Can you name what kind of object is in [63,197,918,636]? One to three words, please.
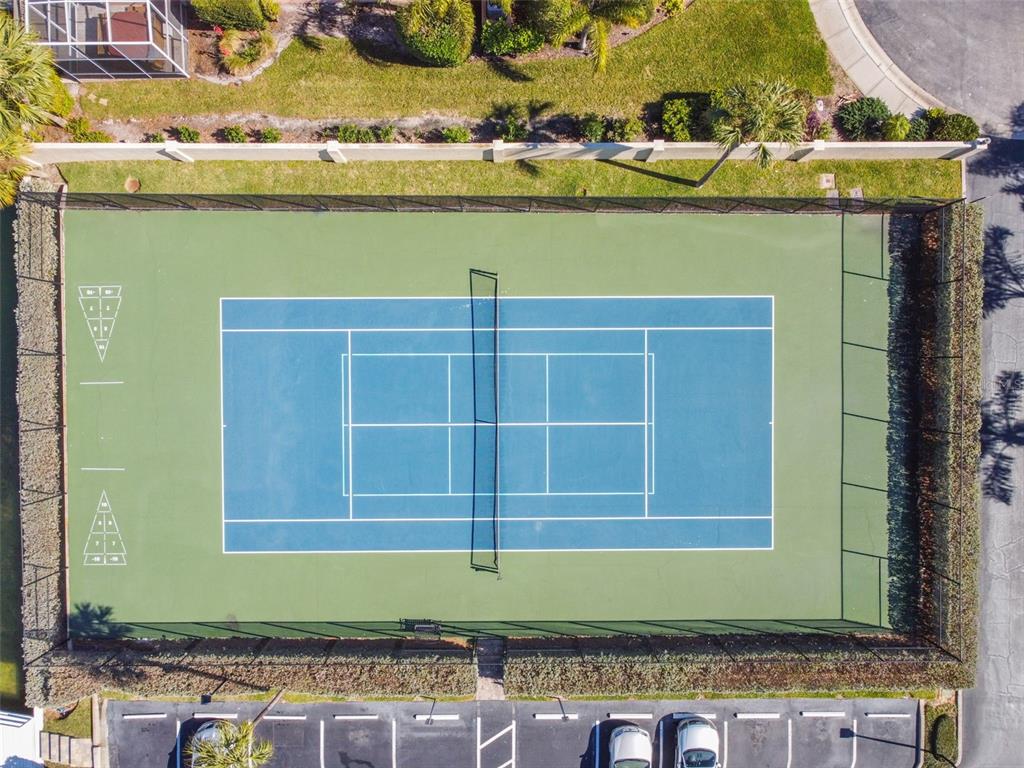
tennis court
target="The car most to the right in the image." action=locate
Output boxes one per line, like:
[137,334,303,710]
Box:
[673,717,726,768]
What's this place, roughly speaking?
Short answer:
sports ground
